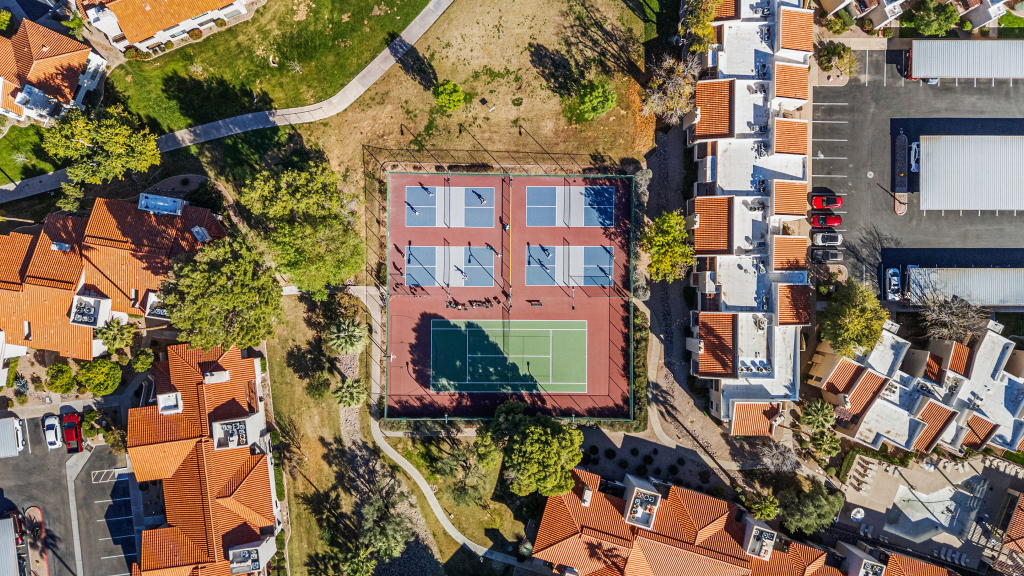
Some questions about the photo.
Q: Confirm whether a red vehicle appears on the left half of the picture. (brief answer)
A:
Yes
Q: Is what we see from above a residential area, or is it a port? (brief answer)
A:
residential area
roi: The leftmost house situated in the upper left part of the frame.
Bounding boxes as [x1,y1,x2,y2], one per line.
[0,18,113,126]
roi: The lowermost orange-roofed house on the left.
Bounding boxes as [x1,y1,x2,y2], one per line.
[127,342,288,576]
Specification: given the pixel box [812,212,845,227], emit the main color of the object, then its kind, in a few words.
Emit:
red car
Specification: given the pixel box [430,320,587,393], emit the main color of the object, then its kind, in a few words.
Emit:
green tennis court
